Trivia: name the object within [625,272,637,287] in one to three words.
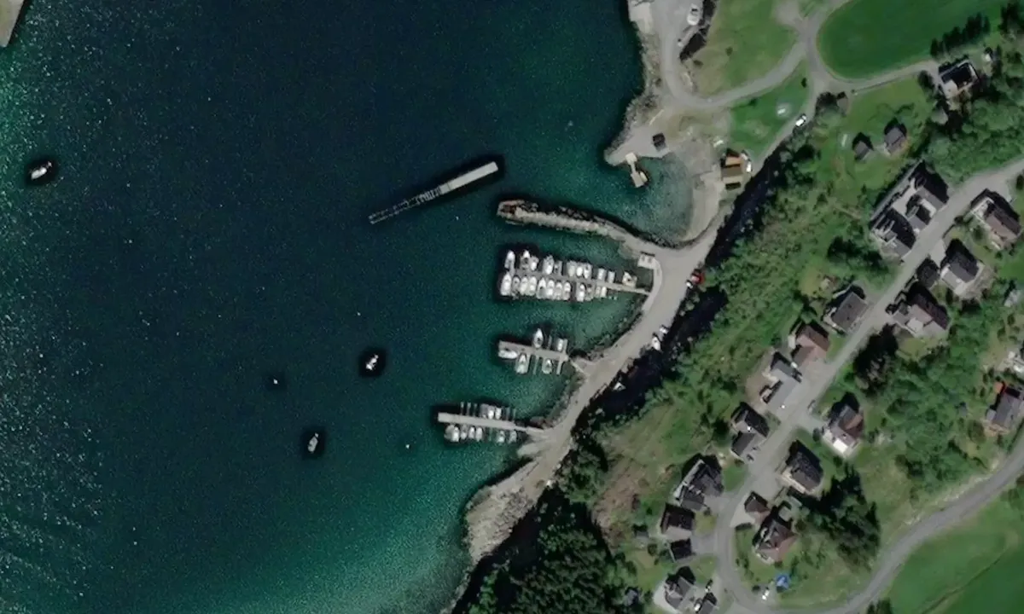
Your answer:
boat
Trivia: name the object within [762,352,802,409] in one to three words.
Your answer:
house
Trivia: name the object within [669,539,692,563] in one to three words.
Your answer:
building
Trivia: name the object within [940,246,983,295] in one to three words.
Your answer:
house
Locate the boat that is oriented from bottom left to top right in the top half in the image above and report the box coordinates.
[30,168,46,180]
